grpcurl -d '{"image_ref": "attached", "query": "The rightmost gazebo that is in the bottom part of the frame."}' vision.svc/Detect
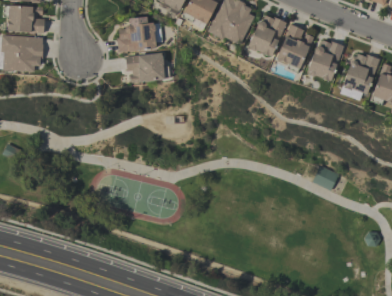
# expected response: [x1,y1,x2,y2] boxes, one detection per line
[364,230,383,248]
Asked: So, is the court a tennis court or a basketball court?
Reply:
basketball court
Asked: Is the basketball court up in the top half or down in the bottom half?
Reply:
bottom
